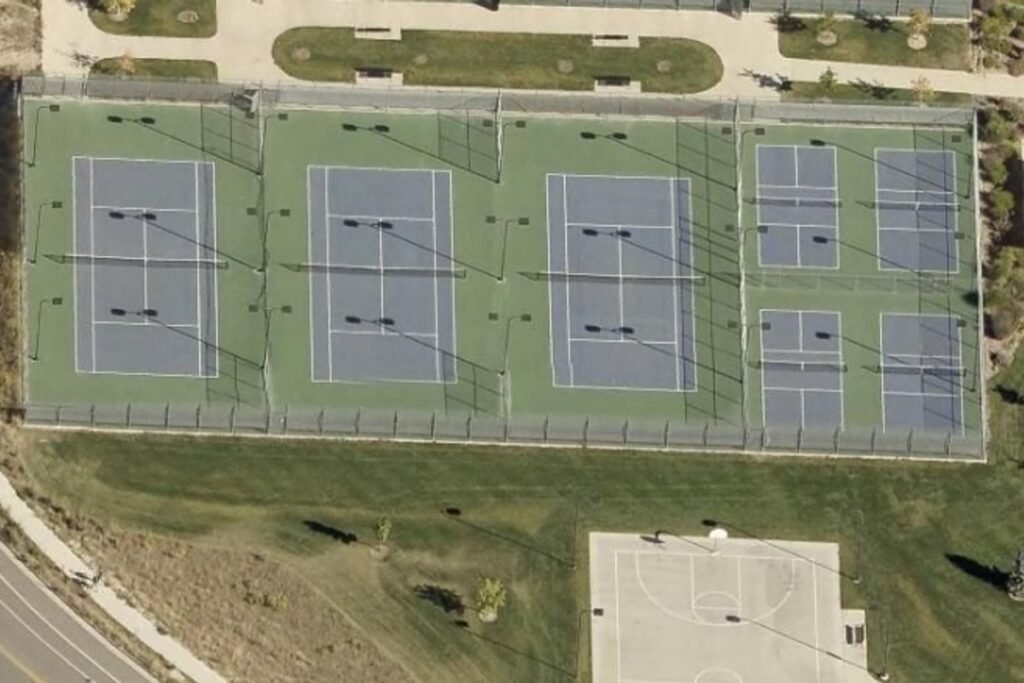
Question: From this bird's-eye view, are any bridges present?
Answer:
No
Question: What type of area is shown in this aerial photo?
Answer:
sports ground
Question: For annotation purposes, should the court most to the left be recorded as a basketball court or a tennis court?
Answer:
tennis court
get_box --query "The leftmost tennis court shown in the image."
[24,99,267,435]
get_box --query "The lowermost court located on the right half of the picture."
[590,533,880,683]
